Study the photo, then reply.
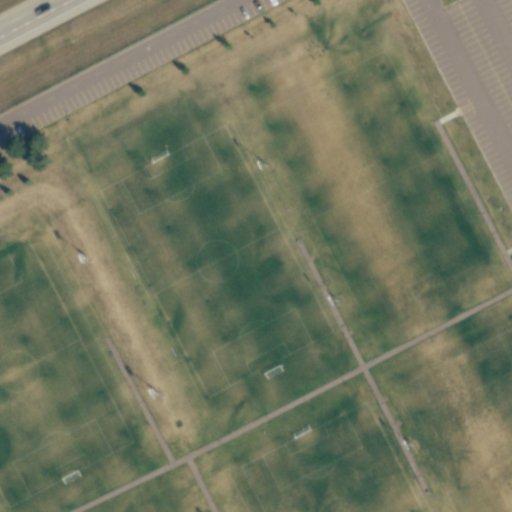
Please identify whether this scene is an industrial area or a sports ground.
sports ground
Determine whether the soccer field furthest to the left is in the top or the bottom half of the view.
bottom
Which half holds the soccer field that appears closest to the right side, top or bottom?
bottom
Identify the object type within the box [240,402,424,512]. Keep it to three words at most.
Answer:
soccer field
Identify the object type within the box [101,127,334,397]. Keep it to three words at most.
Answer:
soccer field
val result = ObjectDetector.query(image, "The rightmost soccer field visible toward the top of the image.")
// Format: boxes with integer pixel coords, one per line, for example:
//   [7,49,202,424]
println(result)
[259,48,492,318]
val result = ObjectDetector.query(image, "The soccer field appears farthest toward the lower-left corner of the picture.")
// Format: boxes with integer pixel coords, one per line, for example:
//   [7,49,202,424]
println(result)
[0,236,134,506]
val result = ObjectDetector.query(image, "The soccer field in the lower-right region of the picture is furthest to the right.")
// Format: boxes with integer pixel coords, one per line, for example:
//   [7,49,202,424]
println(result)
[400,329,512,512]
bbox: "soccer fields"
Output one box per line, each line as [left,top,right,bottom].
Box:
[400,329,512,512]
[259,48,492,318]
[101,127,334,397]
[240,402,424,512]
[0,236,134,506]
